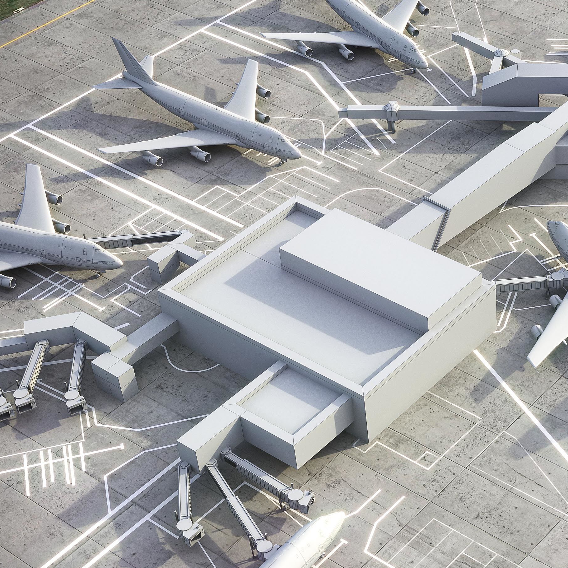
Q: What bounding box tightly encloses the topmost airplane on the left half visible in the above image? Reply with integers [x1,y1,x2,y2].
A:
[89,37,302,166]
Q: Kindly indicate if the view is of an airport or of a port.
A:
airport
